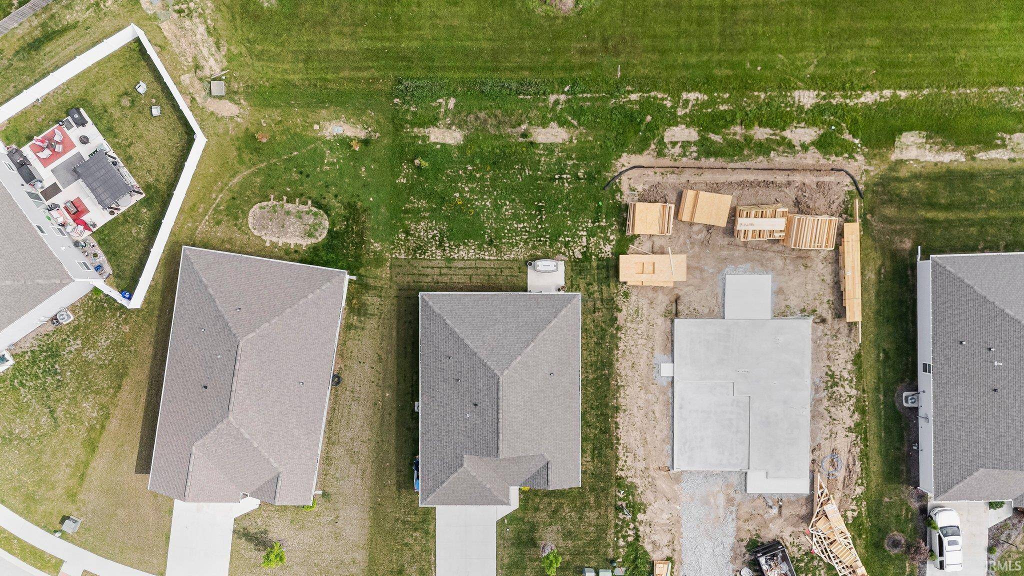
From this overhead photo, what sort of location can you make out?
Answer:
residential area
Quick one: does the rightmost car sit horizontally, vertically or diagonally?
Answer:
vertically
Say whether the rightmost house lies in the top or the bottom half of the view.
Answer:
bottom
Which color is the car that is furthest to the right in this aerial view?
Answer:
white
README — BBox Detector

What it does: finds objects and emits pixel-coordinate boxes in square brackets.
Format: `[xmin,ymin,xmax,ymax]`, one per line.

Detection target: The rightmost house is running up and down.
[917,247,1024,508]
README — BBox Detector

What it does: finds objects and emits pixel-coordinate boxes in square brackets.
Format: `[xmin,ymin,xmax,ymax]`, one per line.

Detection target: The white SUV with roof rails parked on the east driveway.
[929,506,963,573]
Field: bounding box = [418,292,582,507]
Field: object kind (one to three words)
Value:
house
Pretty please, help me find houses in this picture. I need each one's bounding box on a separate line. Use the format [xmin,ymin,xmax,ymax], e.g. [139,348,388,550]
[0,152,102,356]
[418,292,582,507]
[917,247,1024,508]
[148,246,357,505]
